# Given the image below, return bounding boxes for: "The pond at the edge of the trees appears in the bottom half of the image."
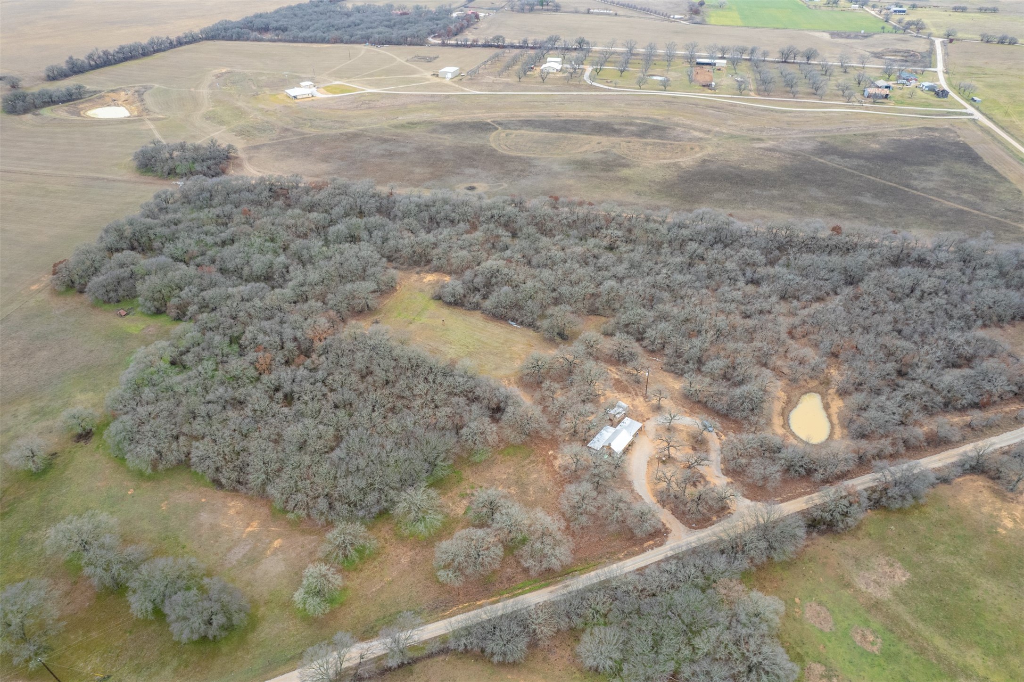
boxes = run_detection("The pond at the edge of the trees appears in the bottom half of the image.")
[789,394,831,445]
